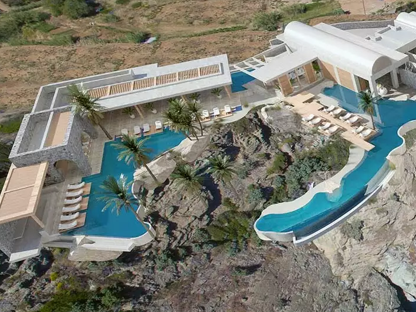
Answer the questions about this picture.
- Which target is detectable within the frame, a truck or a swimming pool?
swimming pool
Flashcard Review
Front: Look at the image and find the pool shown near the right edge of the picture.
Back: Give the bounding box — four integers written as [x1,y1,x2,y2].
[253,85,416,245]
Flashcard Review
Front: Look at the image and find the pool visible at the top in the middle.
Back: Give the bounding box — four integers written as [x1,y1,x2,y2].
[230,68,253,93]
